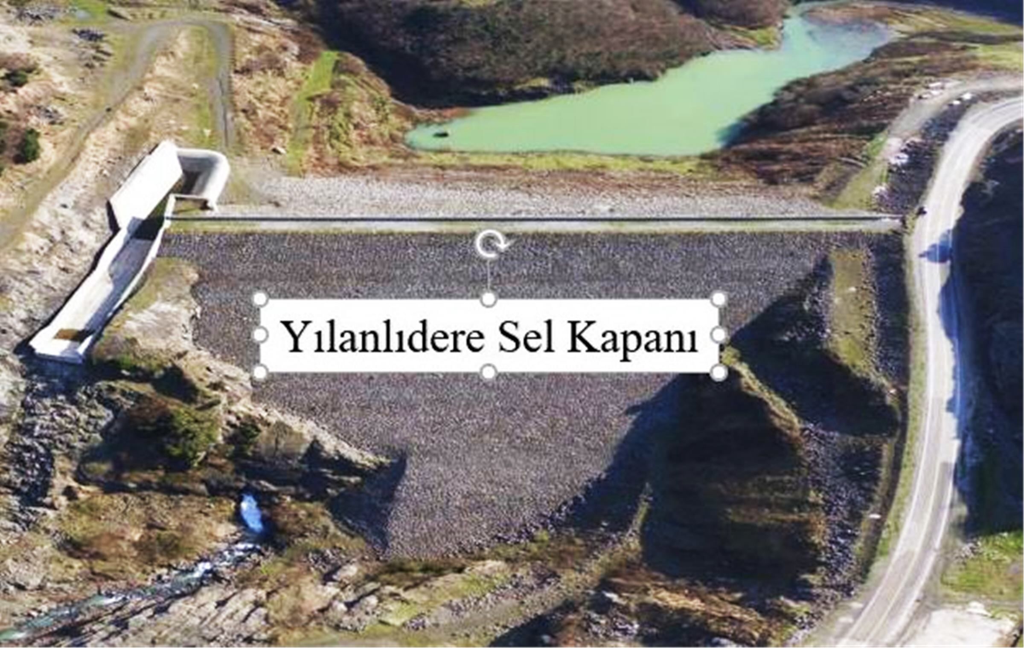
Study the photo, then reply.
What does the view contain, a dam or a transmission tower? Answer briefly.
dam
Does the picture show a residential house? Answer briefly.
No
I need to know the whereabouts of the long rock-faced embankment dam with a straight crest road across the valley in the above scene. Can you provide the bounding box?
[171,179,915,560]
